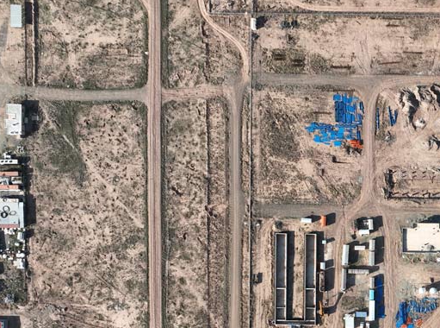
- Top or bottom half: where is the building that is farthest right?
bottom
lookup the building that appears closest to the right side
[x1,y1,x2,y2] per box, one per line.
[403,223,440,253]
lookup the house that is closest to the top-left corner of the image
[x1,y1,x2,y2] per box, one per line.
[6,104,26,139]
